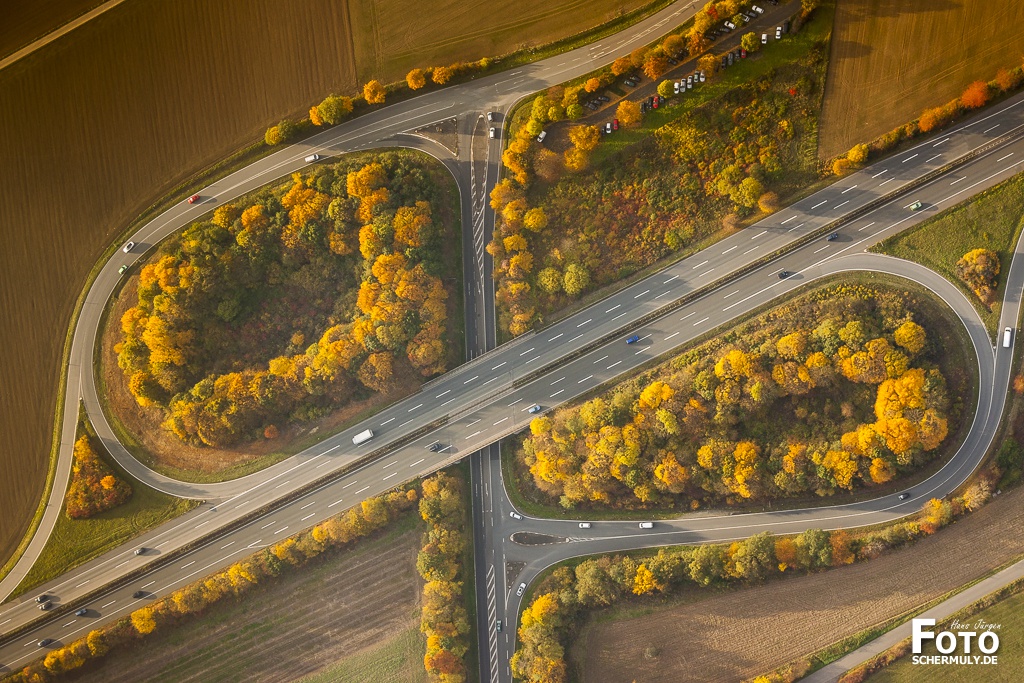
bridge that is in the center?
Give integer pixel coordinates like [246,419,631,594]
[422,327,542,477]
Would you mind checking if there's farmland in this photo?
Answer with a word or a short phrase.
Yes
